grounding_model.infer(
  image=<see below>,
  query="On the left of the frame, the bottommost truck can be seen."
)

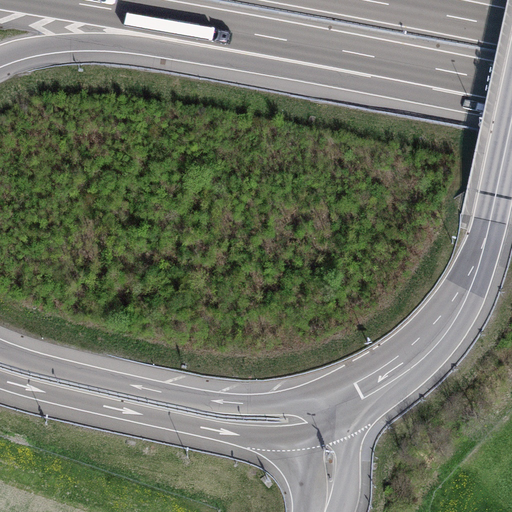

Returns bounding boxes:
[124,12,232,46]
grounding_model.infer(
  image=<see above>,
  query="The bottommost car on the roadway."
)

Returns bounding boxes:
[462,100,486,114]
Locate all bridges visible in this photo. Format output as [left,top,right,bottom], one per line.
[454,0,512,225]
